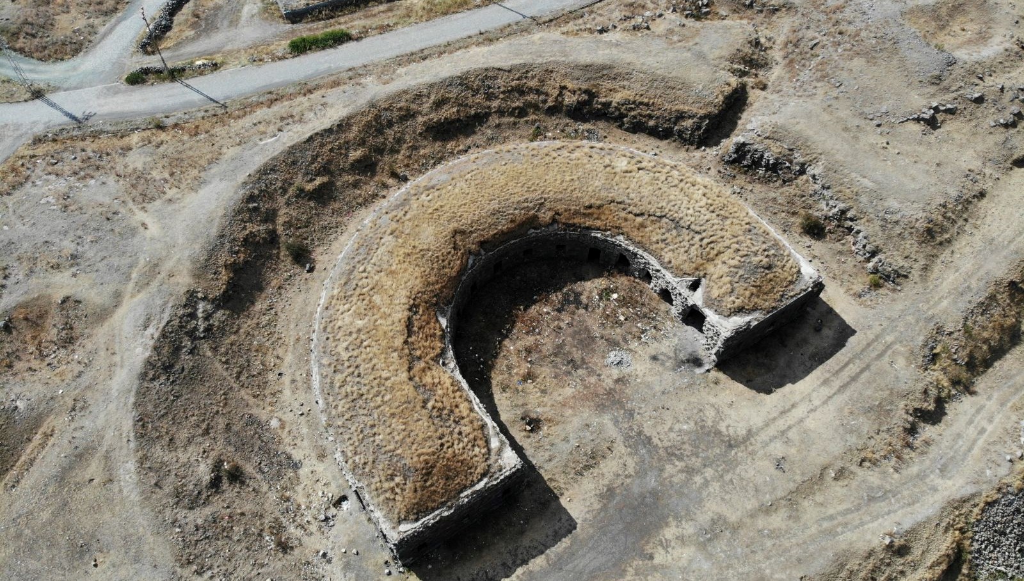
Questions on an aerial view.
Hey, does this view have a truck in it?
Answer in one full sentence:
No, this view has no truck in it.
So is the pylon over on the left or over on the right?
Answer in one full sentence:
You can find the pylon on the left side of the picture.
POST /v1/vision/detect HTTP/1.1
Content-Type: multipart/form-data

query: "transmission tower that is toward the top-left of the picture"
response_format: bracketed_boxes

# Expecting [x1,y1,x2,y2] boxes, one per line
[0,29,43,99]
